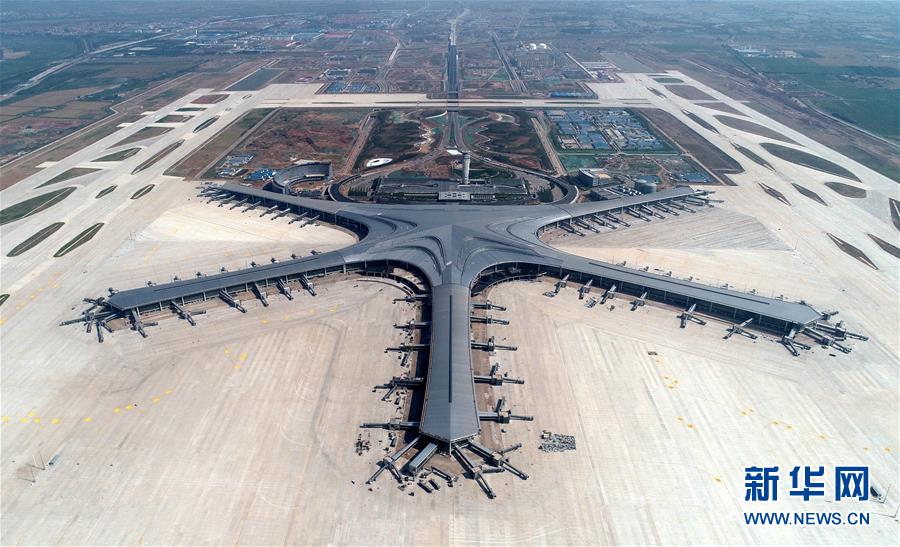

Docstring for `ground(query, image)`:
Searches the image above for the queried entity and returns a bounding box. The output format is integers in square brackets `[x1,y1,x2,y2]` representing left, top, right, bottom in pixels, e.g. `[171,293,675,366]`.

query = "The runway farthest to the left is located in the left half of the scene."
[0,89,213,207]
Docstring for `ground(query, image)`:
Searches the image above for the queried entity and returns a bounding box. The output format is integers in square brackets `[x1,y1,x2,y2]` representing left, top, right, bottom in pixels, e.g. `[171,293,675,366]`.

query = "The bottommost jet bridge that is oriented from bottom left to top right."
[366,433,423,485]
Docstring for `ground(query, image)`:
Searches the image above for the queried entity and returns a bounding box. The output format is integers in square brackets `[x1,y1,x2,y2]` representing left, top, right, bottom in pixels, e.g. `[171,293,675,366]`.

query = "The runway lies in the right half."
[667,70,900,198]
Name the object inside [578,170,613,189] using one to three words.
building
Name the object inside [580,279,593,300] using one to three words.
jet bridge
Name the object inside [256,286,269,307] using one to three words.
jet bridge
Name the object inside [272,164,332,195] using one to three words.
building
